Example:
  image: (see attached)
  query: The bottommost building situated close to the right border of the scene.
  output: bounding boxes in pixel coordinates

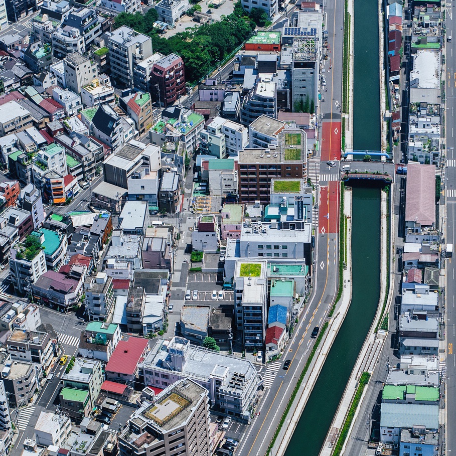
[400,429,440,456]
